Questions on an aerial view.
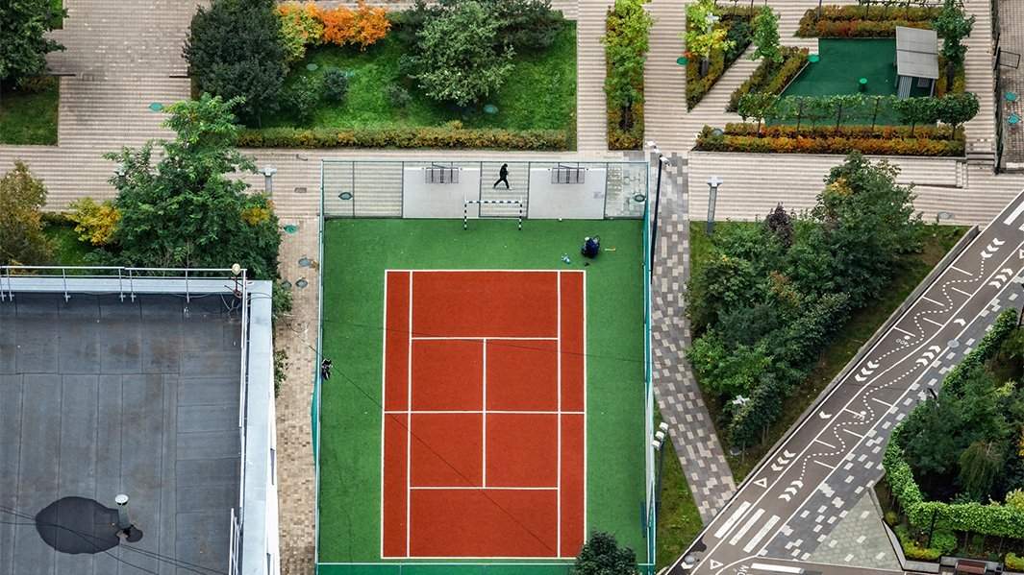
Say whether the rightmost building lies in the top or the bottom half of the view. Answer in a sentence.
Seen from above, the rightmost building lies in the top half of the view.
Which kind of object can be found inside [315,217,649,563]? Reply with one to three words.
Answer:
tennis court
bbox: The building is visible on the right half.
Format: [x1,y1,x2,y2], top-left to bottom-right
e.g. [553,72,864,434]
[895,26,939,108]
